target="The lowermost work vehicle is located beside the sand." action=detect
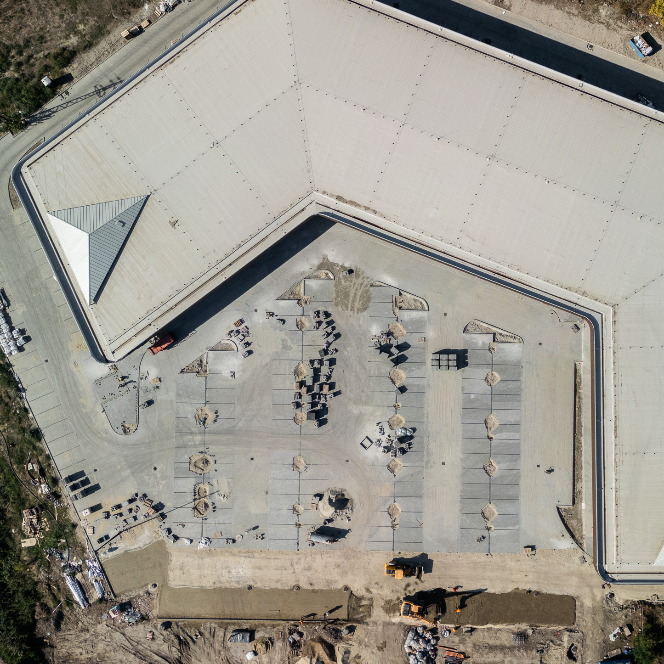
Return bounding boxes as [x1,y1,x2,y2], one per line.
[397,599,440,630]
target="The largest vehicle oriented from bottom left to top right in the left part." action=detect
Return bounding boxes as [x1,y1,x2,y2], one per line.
[148,329,177,352]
